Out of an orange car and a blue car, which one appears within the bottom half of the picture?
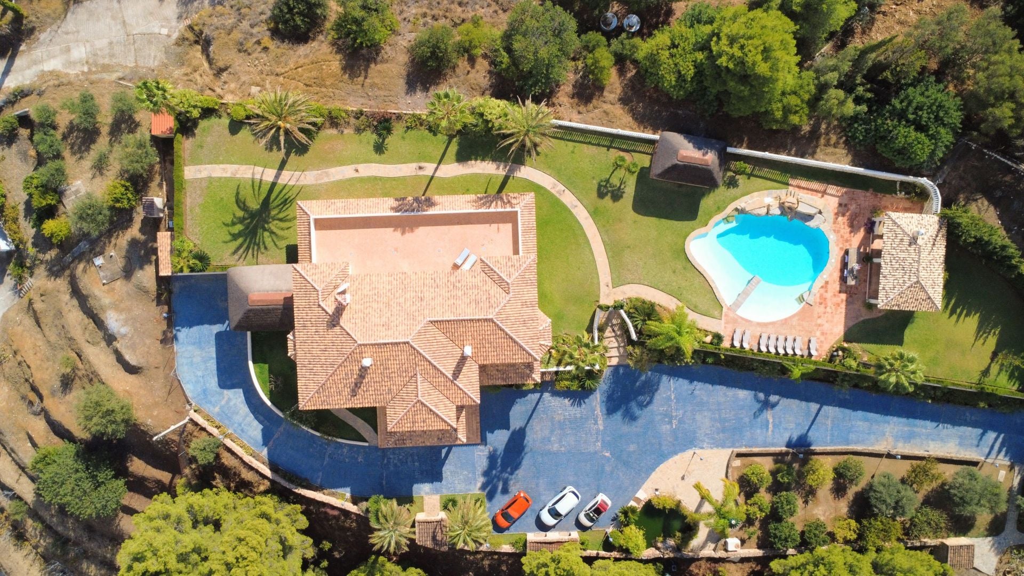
orange car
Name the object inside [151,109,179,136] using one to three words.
shed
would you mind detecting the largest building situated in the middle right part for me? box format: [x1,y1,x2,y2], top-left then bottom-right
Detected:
[855,212,947,312]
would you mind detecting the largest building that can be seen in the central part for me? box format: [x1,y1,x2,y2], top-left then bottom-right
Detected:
[287,192,552,449]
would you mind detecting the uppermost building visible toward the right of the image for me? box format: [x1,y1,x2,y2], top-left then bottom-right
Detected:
[651,133,726,188]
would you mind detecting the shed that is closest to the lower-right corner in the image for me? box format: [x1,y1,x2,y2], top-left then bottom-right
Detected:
[934,528,974,569]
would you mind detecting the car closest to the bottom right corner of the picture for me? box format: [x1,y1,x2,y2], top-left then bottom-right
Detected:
[578,491,613,528]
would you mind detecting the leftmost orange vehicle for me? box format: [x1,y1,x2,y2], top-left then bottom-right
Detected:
[495,489,532,528]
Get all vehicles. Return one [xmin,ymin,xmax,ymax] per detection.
[540,483,581,528]
[578,491,613,528]
[495,489,532,528]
